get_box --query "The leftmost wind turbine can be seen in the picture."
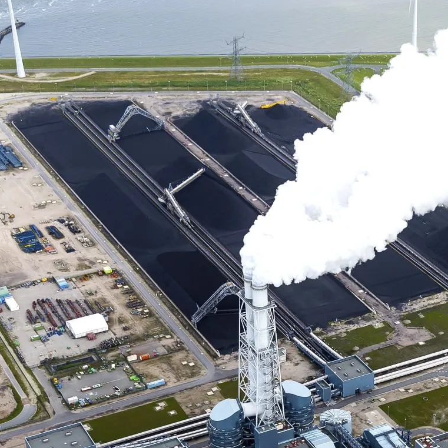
[3,0,29,79]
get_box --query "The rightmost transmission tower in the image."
[348,51,365,96]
